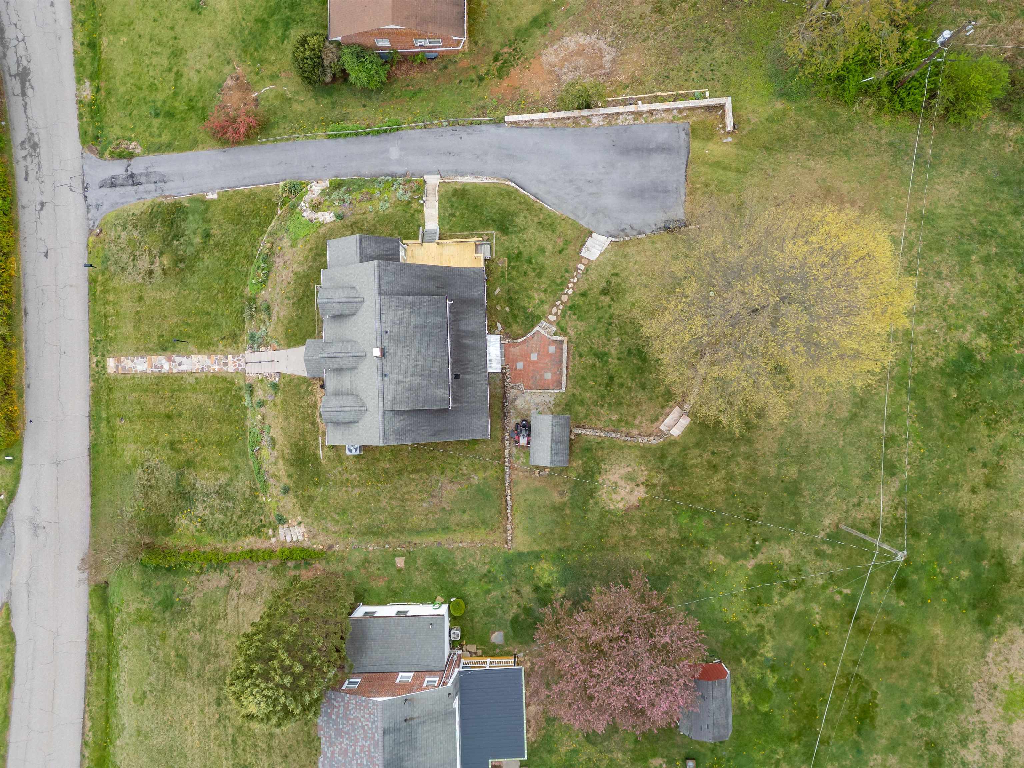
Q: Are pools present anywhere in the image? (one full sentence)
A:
No, the frame has no pool in it.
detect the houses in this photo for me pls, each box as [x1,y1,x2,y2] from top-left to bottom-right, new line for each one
[315,595,527,768]
[303,234,502,447]
[327,0,468,64]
